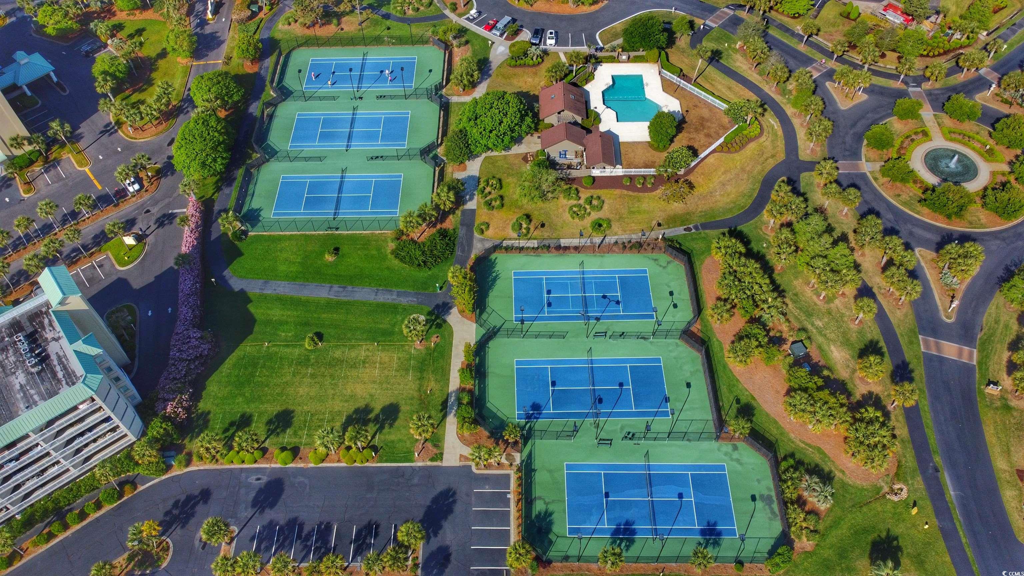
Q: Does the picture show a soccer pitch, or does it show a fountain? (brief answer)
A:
fountain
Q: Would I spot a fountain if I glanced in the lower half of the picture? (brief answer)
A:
No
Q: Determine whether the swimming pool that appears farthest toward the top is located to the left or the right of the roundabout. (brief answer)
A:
to its left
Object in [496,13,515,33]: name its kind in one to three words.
vehicle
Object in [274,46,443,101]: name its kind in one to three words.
tennis court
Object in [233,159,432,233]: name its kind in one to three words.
tennis court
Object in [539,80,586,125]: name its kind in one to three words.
building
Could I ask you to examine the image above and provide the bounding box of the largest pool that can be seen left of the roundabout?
[582,62,683,143]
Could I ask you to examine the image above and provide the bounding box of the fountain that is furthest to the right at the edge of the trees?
[924,146,981,185]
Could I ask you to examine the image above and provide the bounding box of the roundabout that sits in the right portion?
[825,87,1024,262]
